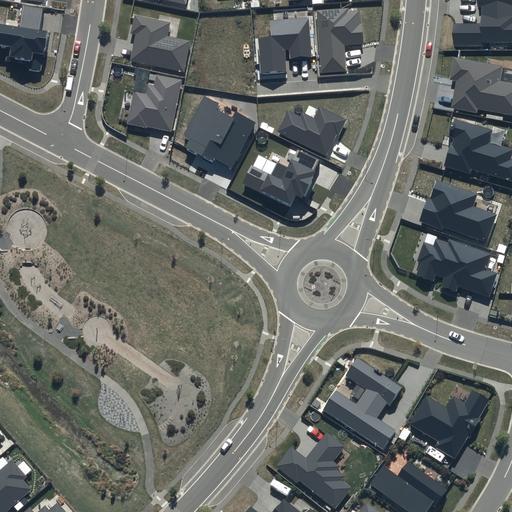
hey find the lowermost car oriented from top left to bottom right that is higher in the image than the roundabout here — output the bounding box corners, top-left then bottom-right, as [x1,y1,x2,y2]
[333,144,349,158]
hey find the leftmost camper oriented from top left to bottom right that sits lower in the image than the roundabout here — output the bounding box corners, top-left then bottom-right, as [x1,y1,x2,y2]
[270,480,291,496]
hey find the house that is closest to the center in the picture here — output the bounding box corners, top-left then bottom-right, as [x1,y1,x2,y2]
[242,150,318,210]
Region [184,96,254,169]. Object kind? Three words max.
house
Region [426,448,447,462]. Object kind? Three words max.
camper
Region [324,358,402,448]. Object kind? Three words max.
house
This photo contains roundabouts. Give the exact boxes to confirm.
[276,238,368,330]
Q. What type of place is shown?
residential area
